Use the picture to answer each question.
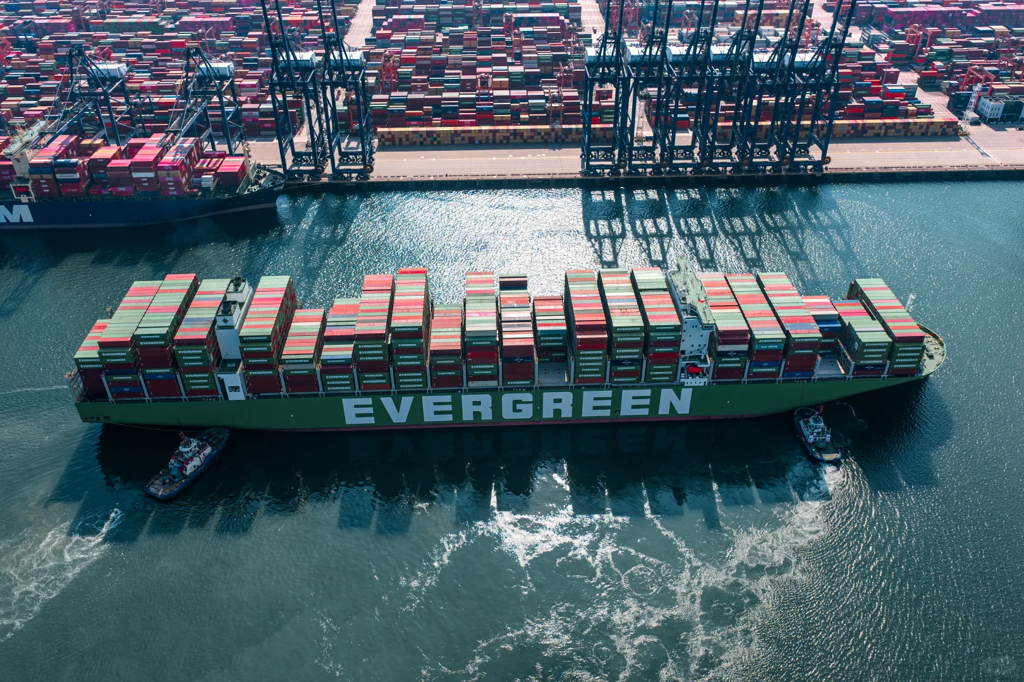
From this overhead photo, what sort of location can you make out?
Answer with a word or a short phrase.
port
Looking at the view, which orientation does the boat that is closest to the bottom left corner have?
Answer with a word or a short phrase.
diagonally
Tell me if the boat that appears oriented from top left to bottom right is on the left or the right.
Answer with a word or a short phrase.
right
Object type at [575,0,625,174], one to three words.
container crane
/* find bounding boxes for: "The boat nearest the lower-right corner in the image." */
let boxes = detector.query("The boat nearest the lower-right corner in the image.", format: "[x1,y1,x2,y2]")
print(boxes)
[788,408,852,467]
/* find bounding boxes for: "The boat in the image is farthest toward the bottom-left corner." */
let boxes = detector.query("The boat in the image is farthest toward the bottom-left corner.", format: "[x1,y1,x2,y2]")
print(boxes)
[140,433,229,501]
